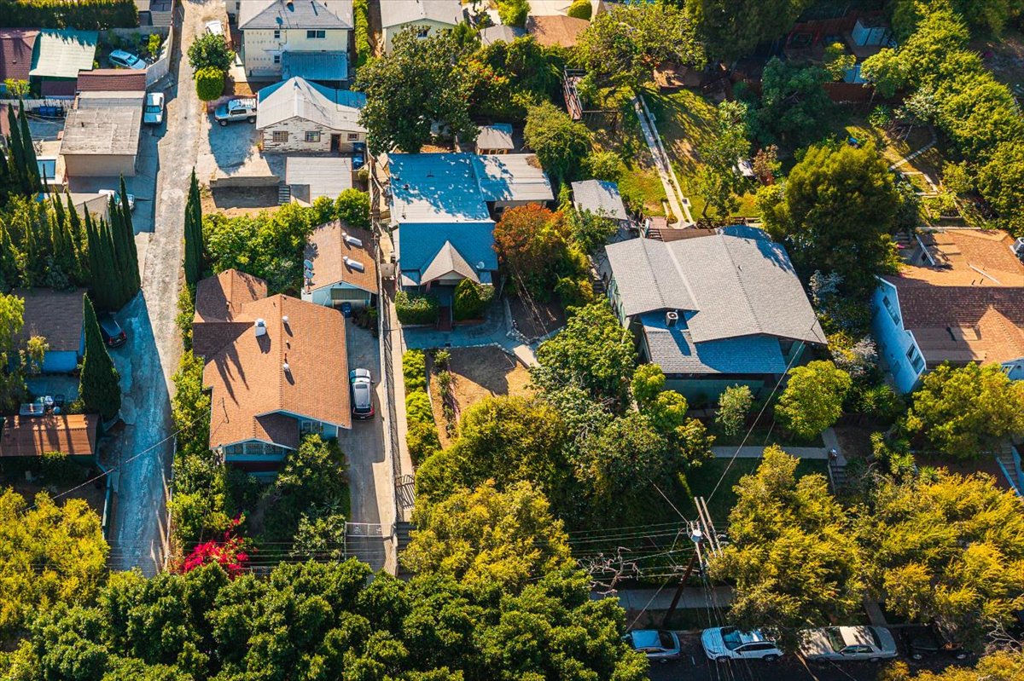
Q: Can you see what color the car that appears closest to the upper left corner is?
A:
blue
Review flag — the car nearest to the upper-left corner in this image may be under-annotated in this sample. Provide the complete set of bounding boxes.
[109,49,147,69]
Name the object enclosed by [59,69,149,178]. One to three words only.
building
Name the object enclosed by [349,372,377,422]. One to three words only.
car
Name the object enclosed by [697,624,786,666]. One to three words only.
car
